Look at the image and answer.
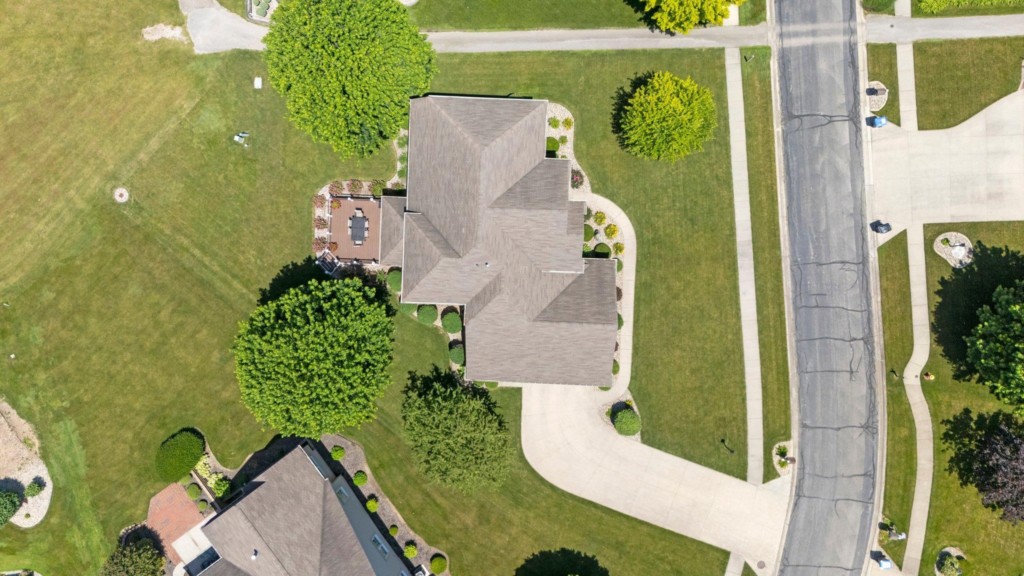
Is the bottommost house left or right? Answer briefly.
left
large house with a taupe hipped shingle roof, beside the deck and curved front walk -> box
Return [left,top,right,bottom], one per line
[377,94,619,388]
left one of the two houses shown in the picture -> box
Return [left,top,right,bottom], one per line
[194,438,412,576]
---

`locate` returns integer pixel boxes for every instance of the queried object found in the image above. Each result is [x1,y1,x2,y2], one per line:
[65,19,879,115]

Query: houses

[377,94,619,388]
[194,438,412,576]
